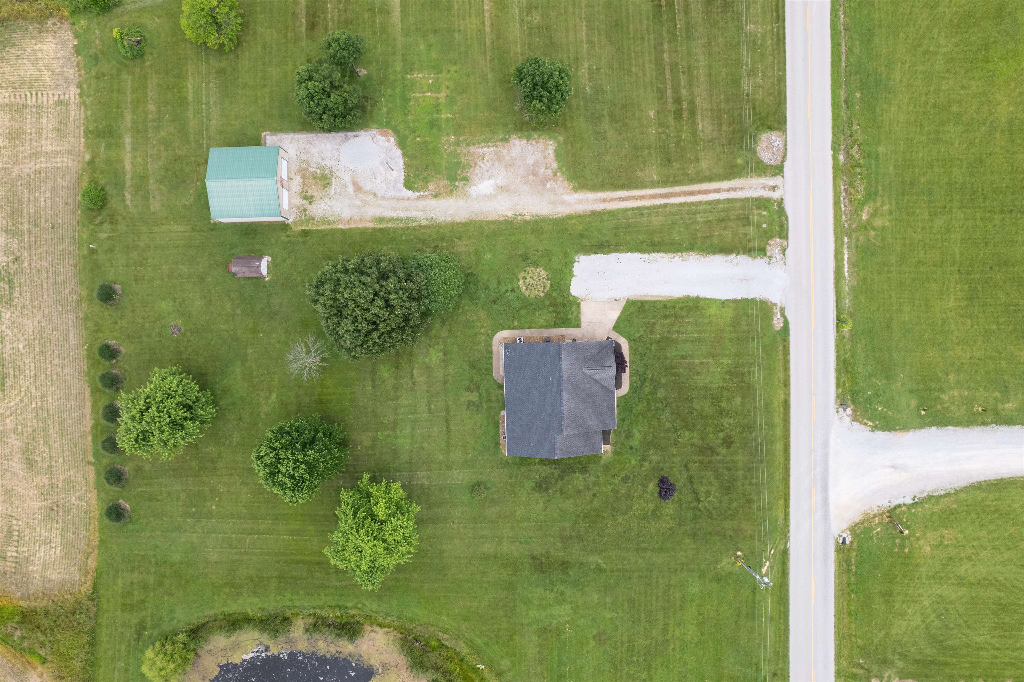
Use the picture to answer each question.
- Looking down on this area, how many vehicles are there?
0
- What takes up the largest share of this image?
grass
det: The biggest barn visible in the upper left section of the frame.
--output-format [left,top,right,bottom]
[205,145,288,222]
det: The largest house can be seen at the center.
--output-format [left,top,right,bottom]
[497,338,619,459]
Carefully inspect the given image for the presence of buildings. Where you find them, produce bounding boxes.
[231,255,267,276]
[497,338,619,459]
[205,145,288,222]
